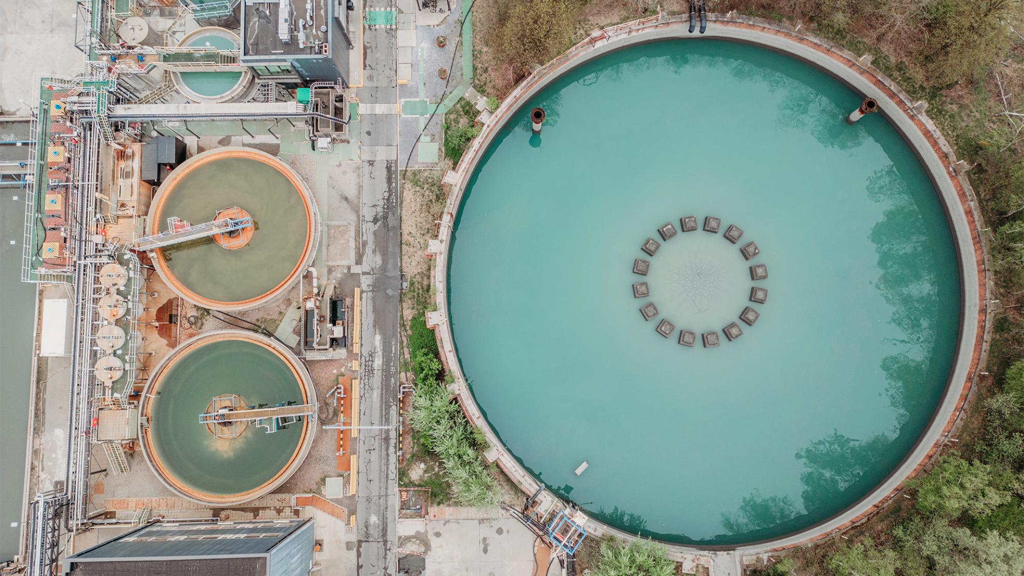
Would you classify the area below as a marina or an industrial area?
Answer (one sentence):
It's an industrial area.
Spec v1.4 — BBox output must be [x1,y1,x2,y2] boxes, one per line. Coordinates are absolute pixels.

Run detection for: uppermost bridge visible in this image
[79,111,353,140]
